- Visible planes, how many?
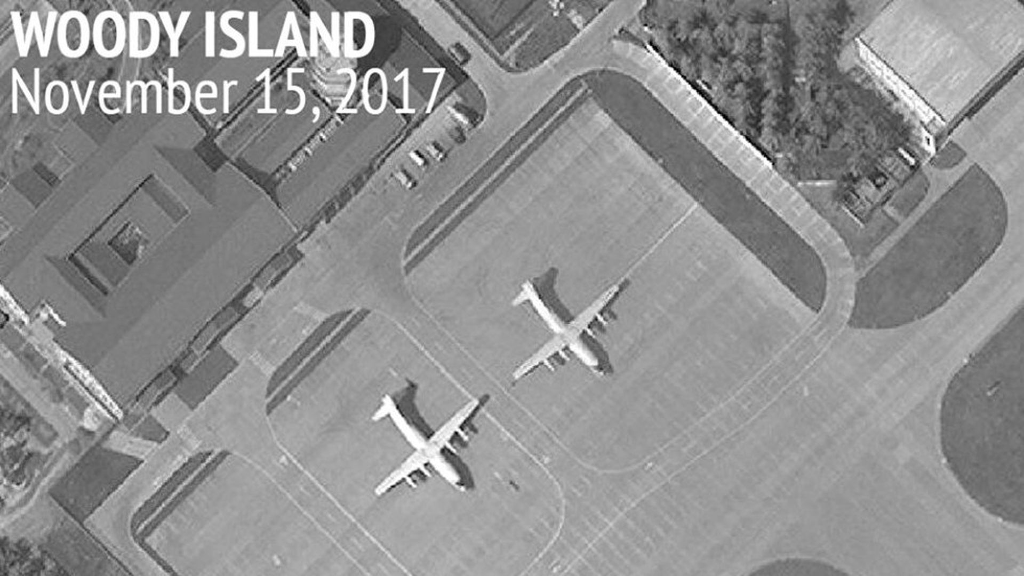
2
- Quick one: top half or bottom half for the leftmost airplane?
bottom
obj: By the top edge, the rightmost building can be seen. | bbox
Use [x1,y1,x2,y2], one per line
[854,0,1024,139]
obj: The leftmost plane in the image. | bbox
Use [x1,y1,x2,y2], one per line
[371,390,480,492]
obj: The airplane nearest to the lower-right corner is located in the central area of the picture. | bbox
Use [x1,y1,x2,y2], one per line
[510,277,619,379]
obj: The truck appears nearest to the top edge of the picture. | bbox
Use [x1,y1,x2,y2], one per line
[447,40,469,65]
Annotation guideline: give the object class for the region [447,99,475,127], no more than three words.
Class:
bus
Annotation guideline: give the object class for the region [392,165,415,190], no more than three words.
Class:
truck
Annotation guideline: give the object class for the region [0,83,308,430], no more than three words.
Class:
building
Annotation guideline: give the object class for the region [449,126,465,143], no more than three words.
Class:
car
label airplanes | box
[371,390,480,492]
[510,277,619,379]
